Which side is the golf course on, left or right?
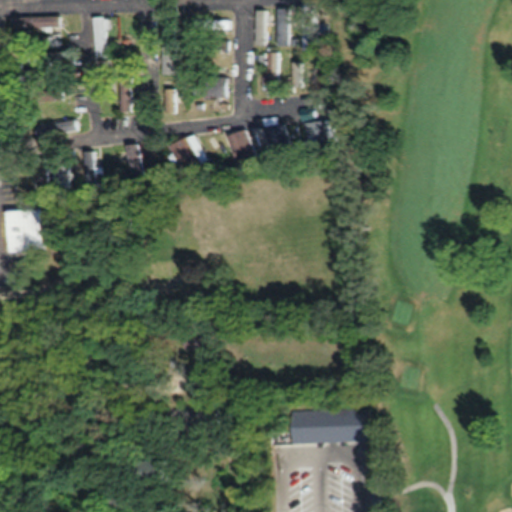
right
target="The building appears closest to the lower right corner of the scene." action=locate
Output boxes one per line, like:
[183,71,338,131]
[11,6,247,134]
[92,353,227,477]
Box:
[291,410,360,444]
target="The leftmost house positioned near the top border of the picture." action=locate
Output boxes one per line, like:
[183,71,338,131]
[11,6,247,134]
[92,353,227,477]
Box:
[18,14,62,34]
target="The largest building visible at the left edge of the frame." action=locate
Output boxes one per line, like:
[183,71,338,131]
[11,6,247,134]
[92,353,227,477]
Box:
[3,210,44,253]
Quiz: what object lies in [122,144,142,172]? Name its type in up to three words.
house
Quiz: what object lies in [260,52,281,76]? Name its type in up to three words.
house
